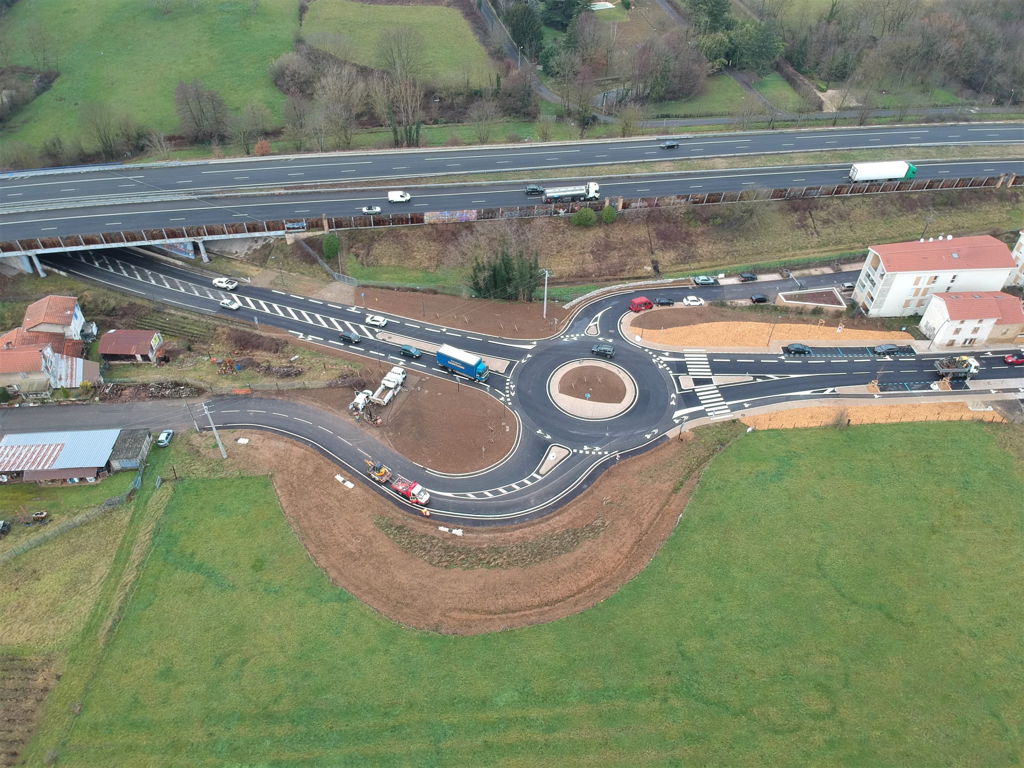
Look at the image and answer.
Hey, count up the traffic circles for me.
1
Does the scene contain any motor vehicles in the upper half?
Yes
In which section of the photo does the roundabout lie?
center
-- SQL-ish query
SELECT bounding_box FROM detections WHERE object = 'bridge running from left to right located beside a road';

[0,172,299,281]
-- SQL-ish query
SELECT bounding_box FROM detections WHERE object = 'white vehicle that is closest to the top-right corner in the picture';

[852,160,919,182]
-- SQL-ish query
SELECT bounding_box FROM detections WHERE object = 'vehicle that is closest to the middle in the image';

[439,344,491,382]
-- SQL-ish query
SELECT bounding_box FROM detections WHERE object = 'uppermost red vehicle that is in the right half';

[630,297,654,312]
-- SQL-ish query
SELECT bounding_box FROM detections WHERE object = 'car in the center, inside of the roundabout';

[591,343,615,357]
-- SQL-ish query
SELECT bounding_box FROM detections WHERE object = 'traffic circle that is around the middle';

[505,334,685,454]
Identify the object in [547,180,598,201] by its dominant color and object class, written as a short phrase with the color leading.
white truck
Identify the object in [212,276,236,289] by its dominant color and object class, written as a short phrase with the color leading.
white vehicle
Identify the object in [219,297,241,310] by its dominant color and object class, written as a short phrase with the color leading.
white vehicle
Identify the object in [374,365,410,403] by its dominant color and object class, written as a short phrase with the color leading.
white truck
